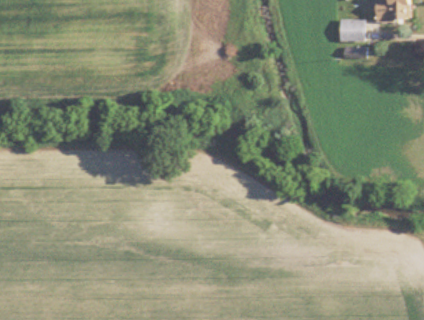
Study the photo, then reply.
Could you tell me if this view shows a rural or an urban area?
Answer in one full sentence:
The area is rural.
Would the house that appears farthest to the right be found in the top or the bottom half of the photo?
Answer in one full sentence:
The house that appears farthest to the right is in the top half of the image.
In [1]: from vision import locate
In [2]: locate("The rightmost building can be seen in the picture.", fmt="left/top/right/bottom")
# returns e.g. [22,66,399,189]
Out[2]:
[374,0,412,24]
